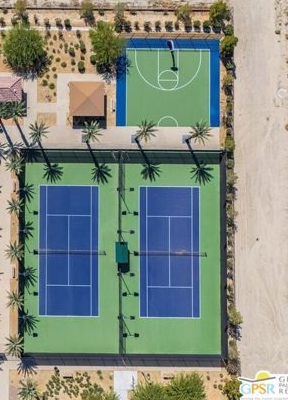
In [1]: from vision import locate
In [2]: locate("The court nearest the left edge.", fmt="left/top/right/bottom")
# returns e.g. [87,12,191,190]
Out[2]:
[19,150,119,354]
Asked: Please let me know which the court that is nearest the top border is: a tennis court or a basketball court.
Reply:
basketball court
